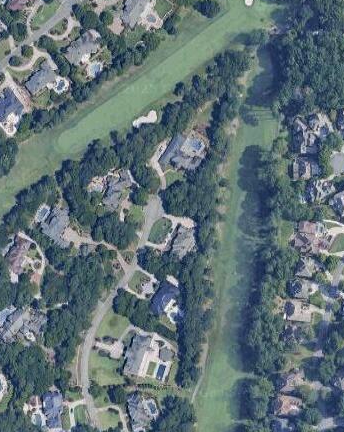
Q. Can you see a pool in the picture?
Yes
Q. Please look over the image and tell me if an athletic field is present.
No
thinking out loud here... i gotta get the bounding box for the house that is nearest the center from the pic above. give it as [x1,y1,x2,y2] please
[169,223,198,261]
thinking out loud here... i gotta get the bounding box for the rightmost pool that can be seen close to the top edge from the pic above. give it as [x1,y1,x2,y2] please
[140,9,160,27]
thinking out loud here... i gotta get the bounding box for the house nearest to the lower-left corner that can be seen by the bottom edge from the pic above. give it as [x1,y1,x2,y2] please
[41,389,64,428]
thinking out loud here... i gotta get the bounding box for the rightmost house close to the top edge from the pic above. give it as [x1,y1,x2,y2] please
[121,0,150,30]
